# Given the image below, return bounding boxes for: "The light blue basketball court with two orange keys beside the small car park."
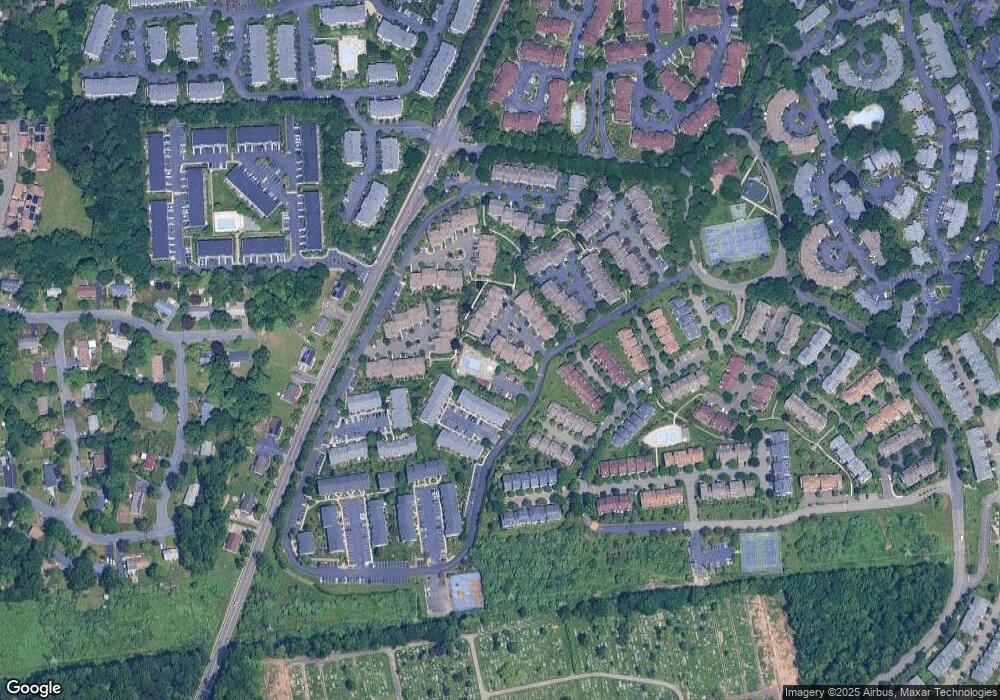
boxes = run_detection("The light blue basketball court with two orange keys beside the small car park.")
[450,571,484,612]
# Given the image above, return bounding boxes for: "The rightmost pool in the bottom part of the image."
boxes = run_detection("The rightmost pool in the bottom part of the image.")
[645,425,683,447]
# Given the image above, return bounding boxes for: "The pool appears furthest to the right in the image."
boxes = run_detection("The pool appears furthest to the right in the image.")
[843,103,885,129]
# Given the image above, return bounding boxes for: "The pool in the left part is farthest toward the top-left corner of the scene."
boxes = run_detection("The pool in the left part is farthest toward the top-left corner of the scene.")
[213,211,243,232]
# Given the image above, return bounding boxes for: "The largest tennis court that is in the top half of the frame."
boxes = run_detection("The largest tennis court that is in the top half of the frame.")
[700,216,774,266]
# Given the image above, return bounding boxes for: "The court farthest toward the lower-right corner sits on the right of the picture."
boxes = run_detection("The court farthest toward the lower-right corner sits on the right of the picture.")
[739,531,782,574]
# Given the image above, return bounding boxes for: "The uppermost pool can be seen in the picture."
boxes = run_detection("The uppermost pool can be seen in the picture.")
[339,35,366,71]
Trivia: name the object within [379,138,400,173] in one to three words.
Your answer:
building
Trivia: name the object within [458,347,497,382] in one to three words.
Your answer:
swimming pool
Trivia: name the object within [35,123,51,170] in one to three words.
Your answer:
house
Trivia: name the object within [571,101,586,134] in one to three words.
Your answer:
swimming pool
